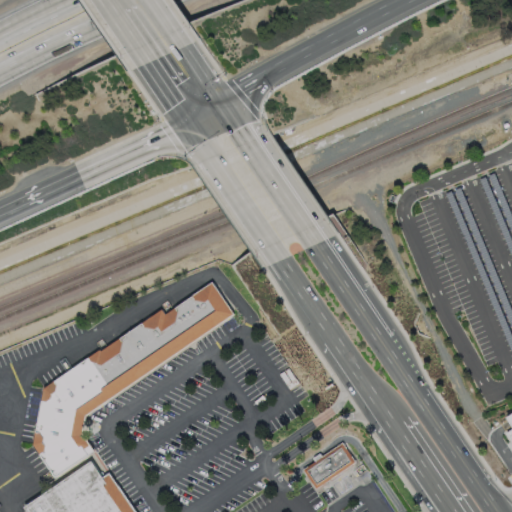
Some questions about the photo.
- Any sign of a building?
Yes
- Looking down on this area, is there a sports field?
No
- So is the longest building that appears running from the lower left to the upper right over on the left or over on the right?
left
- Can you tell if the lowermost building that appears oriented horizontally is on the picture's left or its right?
left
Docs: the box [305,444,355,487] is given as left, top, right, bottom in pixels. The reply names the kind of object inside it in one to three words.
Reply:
building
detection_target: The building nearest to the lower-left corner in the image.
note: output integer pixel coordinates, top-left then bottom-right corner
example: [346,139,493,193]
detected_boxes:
[25,462,137,512]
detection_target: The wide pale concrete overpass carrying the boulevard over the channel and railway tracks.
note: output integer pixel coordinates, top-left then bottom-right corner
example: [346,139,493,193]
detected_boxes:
[186,116,343,268]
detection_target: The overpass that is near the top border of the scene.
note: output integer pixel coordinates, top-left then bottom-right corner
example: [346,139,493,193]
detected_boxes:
[80,0,194,73]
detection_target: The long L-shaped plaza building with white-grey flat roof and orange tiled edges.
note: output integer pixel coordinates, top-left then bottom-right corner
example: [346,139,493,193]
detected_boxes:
[35,281,234,480]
